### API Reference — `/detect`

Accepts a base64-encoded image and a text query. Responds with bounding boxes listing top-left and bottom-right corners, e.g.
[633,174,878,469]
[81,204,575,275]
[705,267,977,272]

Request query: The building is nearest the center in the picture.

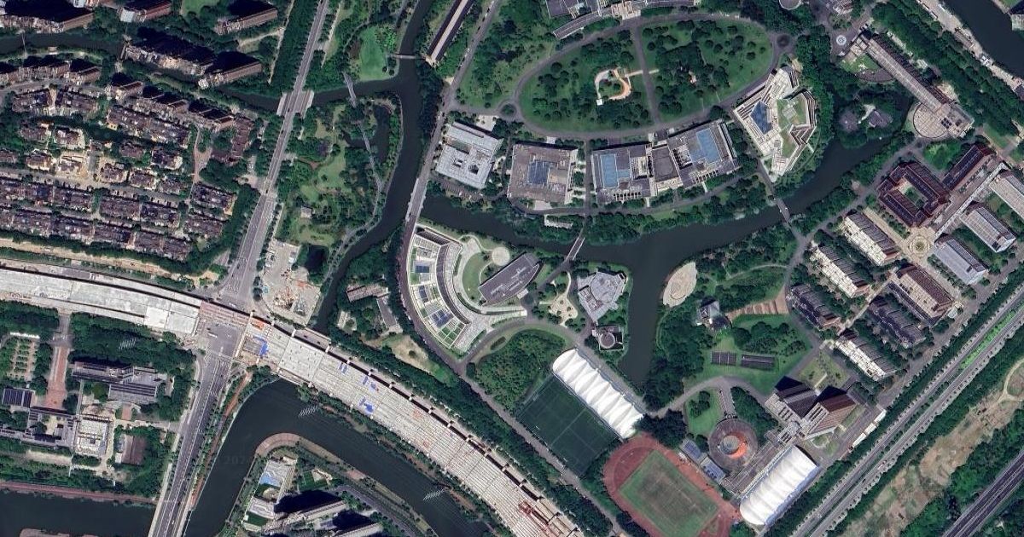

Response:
[479,252,543,306]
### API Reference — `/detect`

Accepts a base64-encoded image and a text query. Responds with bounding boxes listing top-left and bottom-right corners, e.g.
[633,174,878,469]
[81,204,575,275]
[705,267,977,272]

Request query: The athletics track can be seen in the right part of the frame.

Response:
[602,435,734,537]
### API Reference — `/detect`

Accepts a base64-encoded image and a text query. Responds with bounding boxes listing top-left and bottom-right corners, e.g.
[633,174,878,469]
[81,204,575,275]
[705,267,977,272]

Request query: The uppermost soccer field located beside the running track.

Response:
[516,376,619,475]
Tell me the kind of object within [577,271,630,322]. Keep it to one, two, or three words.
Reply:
building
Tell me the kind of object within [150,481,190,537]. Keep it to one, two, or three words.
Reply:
bridge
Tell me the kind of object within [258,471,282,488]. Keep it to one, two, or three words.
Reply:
swimming pool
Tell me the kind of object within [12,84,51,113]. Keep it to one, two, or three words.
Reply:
house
